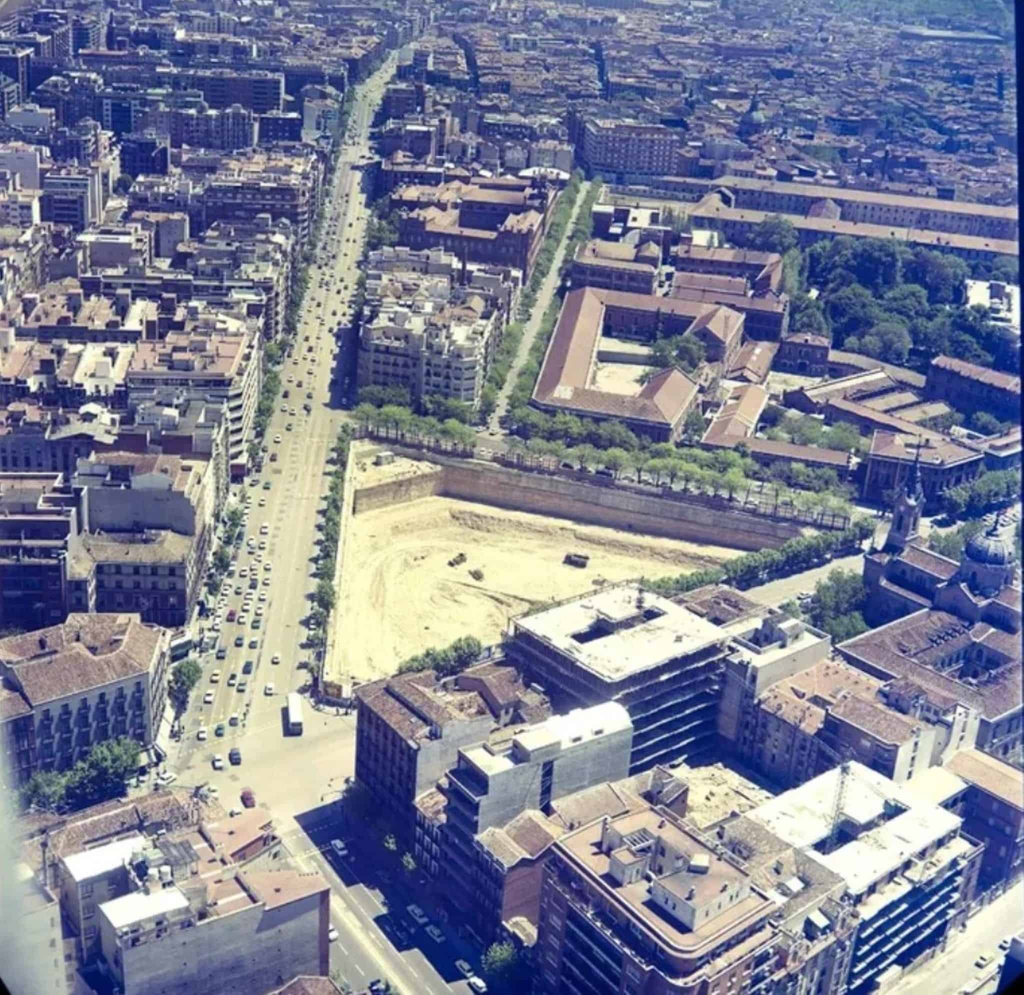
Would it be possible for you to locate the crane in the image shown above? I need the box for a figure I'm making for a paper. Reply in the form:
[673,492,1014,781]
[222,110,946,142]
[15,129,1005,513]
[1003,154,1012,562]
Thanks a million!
[823,749,882,811]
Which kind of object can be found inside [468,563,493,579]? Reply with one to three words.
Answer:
work vehicle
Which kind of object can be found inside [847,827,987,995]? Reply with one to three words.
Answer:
building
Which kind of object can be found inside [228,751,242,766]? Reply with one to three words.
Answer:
car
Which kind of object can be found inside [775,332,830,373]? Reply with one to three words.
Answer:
house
